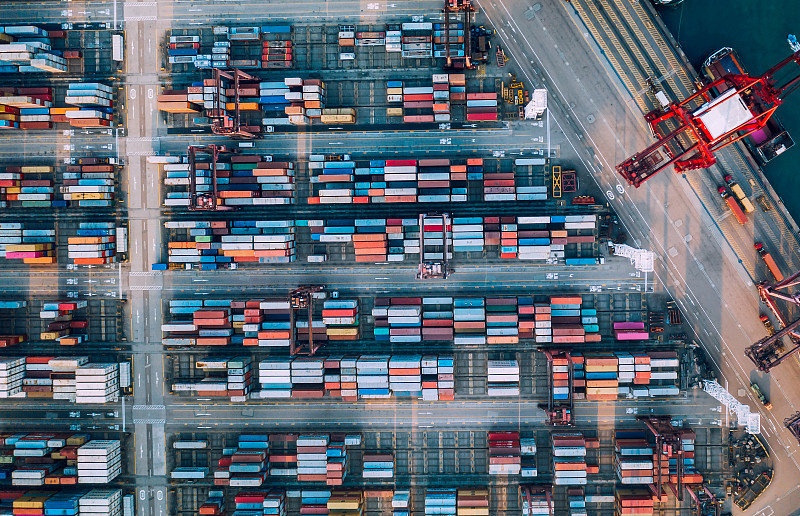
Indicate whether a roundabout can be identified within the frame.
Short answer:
No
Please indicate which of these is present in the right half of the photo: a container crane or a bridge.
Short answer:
container crane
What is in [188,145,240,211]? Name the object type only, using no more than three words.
container crane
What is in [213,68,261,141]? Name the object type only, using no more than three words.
container crane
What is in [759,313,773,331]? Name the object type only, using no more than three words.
vehicle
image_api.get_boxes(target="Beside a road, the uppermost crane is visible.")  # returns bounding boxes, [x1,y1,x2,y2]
[441,0,472,72]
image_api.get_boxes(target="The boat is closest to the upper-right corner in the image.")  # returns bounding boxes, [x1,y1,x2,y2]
[785,31,799,53]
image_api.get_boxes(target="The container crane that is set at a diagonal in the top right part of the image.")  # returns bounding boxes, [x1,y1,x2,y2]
[617,46,800,194]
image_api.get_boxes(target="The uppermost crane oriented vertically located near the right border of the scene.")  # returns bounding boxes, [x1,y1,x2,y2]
[745,252,800,378]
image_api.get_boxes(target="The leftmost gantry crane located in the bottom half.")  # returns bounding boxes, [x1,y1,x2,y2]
[288,281,329,356]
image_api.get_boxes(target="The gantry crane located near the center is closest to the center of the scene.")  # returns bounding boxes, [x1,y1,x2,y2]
[417,208,452,278]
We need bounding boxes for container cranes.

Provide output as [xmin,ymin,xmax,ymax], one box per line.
[213,68,261,141]
[745,252,800,378]
[516,482,551,516]
[288,281,329,356]
[617,46,800,194]
[636,414,684,502]
[537,342,576,424]
[441,0,472,72]
[417,208,452,278]
[188,145,240,211]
